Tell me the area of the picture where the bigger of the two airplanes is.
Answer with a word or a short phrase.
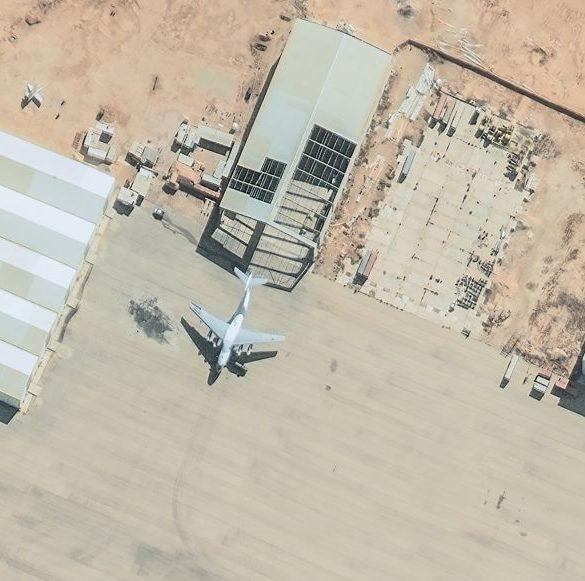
center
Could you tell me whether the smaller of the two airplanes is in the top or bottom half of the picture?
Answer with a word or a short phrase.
top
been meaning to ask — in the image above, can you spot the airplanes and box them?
[189,267,283,374]
[21,84,47,105]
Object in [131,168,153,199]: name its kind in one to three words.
building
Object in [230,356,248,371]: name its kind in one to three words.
vehicle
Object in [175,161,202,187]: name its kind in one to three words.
building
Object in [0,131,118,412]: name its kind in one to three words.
warehouse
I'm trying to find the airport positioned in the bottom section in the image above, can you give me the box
[0,205,585,581]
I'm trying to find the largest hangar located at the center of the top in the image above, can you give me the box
[212,19,393,266]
